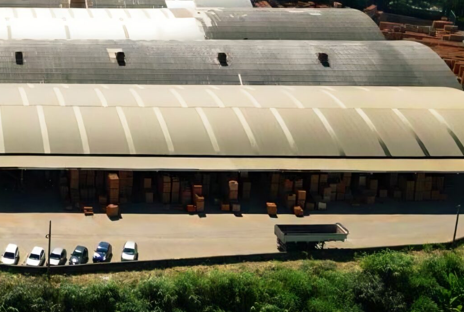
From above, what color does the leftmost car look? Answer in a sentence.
From above, the leftmost car appears white.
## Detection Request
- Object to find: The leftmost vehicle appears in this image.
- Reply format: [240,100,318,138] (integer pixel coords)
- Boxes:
[0,245,20,267]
